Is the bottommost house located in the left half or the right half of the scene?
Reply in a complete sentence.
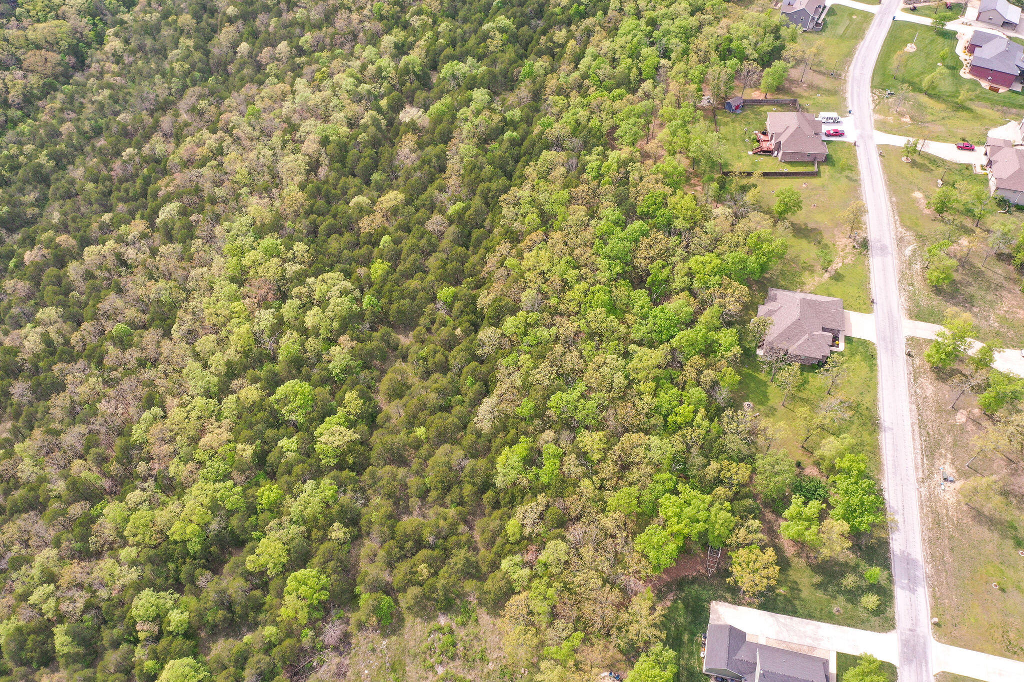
The bottommost house appears in the right half of the scene.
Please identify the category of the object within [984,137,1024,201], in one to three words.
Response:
house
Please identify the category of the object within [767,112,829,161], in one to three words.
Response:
house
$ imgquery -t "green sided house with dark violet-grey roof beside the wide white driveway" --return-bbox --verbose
[700,624,830,682]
